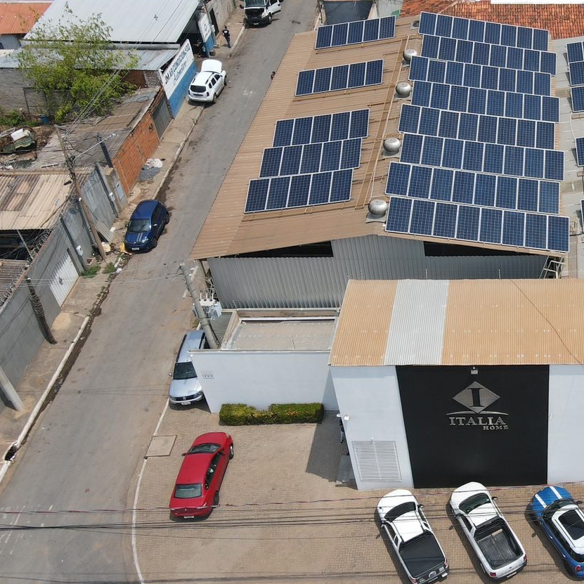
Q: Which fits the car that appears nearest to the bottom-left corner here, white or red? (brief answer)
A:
red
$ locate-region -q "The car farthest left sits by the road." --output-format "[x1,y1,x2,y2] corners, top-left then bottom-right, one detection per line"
[120,198,171,249]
